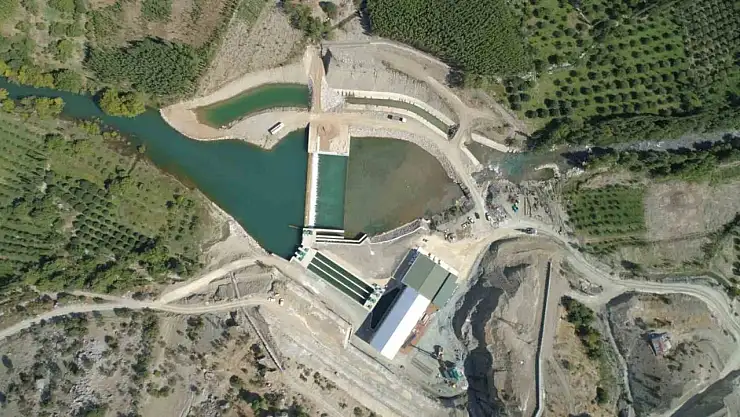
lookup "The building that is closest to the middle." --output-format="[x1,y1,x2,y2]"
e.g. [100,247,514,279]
[401,252,452,301]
